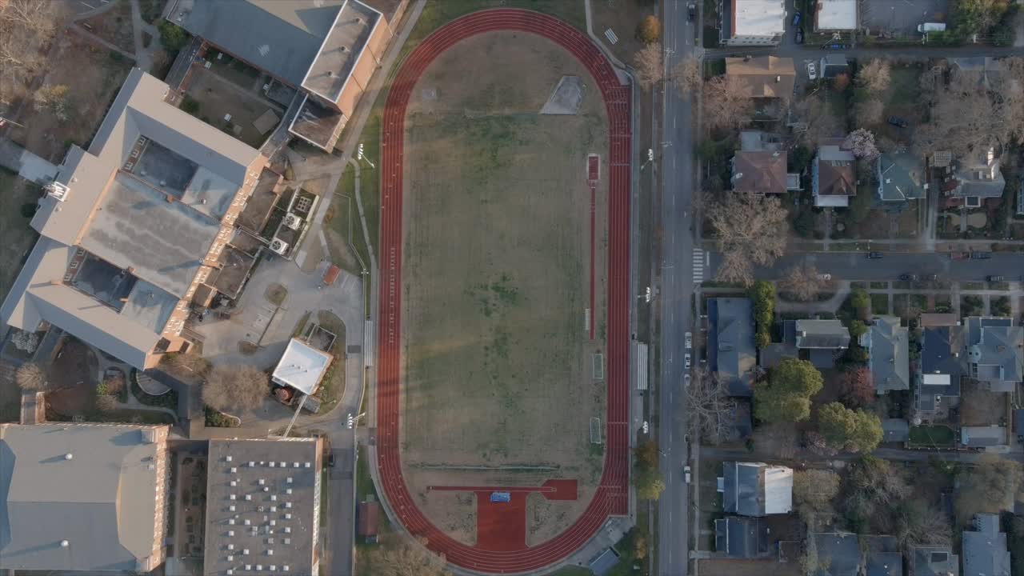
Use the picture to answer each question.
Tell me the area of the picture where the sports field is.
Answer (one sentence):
The sports field appears toward the center of the photo.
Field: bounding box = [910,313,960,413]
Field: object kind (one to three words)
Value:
house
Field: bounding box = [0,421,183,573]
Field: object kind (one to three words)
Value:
building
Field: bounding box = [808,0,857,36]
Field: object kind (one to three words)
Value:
building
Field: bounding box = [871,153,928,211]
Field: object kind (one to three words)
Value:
house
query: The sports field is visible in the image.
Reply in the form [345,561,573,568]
[401,36,607,550]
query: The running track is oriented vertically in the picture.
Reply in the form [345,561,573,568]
[375,11,633,576]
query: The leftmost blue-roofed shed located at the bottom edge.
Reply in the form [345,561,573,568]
[588,545,620,576]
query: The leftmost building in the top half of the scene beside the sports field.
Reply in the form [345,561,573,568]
[0,67,286,371]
